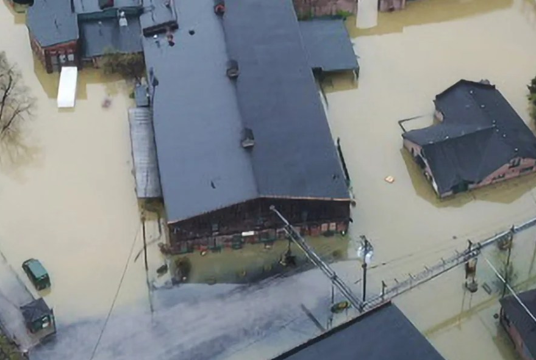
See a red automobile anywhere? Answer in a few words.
No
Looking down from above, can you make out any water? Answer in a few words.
Yes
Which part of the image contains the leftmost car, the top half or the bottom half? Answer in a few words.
bottom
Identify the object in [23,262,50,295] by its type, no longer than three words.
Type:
car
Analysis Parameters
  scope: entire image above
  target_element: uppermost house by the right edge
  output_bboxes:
[398,85,536,205]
